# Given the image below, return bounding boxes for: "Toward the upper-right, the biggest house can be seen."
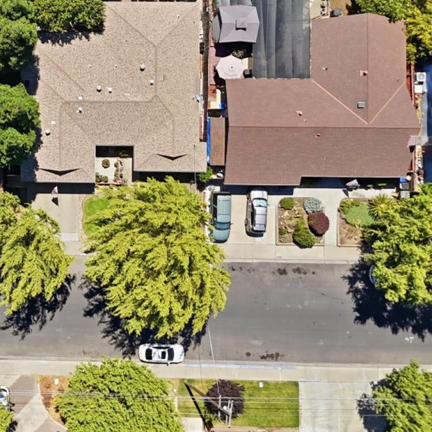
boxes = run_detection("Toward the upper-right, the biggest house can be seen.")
[217,12,421,185]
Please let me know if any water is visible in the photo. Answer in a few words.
No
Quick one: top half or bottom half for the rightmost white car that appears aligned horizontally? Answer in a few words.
bottom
